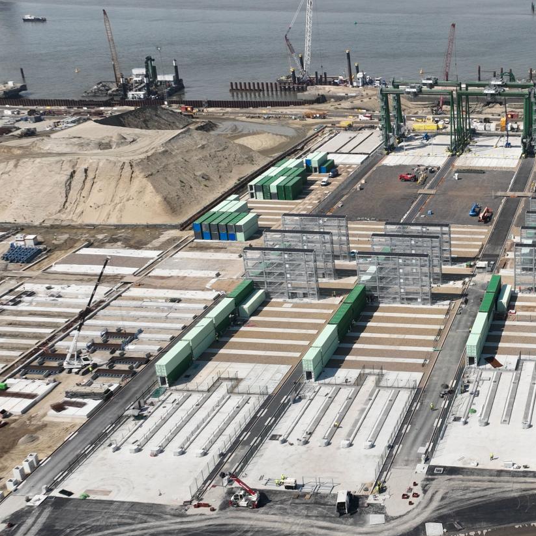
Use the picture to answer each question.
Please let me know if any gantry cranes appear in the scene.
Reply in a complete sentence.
Yes, this view includes a gantry crane.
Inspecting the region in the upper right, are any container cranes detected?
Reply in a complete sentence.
Yes, a container crane can be seen in the upper right.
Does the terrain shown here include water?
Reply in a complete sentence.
Yes, there is water in the image.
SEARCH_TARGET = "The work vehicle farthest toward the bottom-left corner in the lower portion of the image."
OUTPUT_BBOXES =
[212,466,259,506]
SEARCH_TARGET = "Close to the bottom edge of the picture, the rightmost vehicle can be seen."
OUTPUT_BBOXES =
[330,484,355,518]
